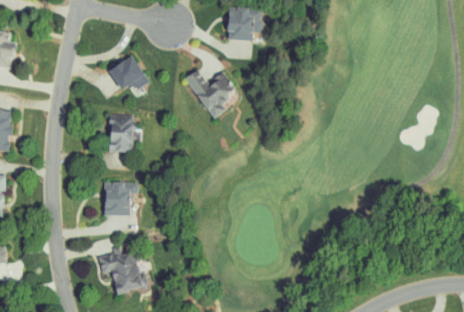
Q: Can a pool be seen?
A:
No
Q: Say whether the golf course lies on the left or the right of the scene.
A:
right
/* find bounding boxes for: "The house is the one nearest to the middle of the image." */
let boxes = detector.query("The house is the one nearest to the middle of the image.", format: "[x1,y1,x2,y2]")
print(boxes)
[186,70,240,118]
